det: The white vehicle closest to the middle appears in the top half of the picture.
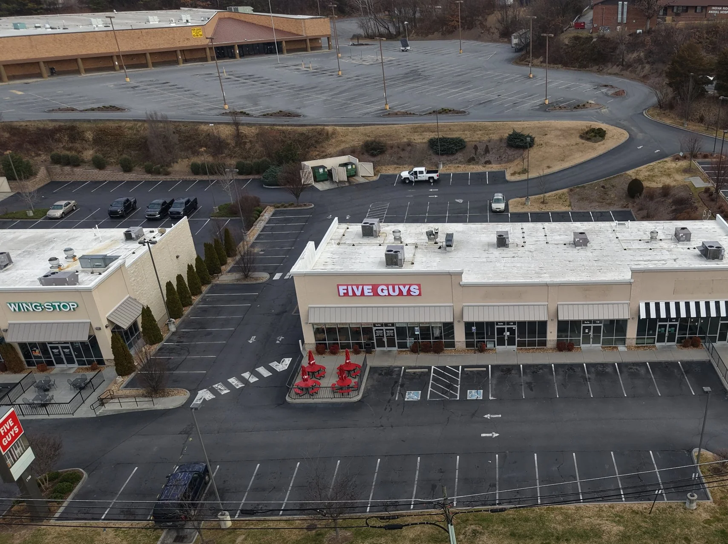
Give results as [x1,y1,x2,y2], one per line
[400,167,440,182]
